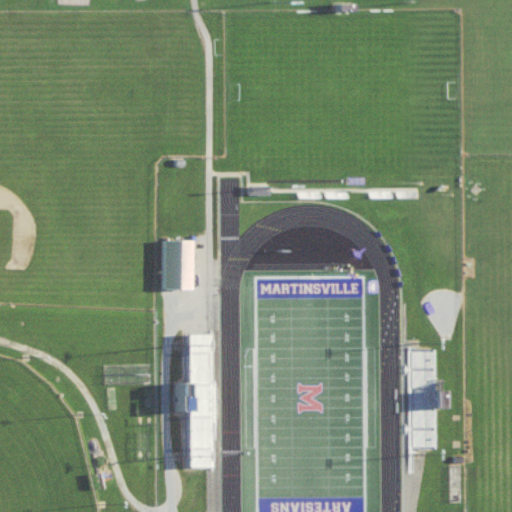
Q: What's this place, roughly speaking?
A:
sports ground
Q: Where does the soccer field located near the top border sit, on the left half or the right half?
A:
right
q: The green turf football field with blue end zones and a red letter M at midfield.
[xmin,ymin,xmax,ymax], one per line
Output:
[240,271,380,512]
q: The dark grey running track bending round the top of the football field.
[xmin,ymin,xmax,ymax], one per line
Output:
[220,178,400,512]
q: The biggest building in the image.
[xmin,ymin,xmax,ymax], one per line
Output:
[163,240,196,291]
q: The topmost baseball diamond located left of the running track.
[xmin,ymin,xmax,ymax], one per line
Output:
[0,186,36,270]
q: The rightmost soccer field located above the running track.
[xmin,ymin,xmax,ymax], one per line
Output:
[225,12,460,178]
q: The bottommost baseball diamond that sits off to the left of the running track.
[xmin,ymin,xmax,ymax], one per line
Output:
[0,355,100,512]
